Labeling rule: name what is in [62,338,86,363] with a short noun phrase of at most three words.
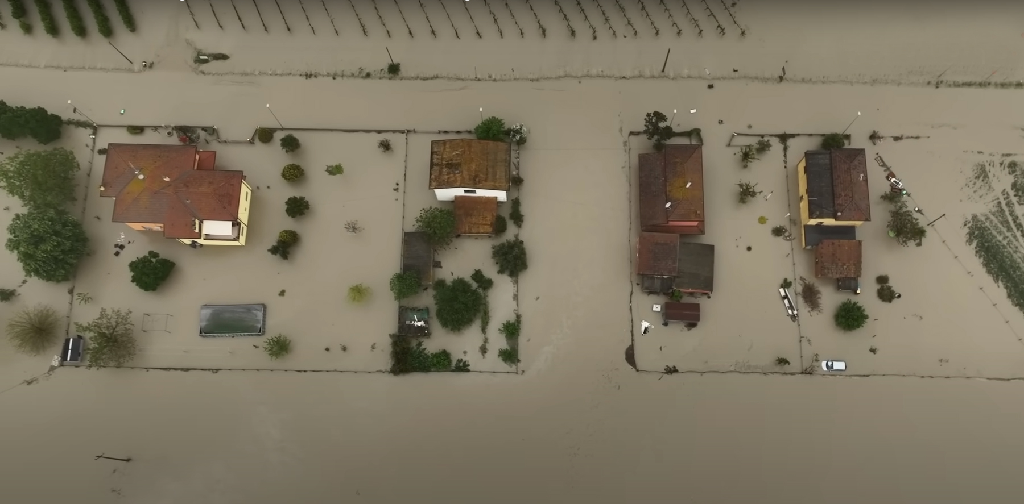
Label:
shed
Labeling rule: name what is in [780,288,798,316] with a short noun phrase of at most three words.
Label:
boat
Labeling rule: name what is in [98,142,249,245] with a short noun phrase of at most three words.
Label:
house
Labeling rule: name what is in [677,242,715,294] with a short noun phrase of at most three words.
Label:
barn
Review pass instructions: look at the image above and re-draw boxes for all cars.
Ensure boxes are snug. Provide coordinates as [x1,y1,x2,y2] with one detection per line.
[820,359,847,372]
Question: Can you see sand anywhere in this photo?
No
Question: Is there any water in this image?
Yes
